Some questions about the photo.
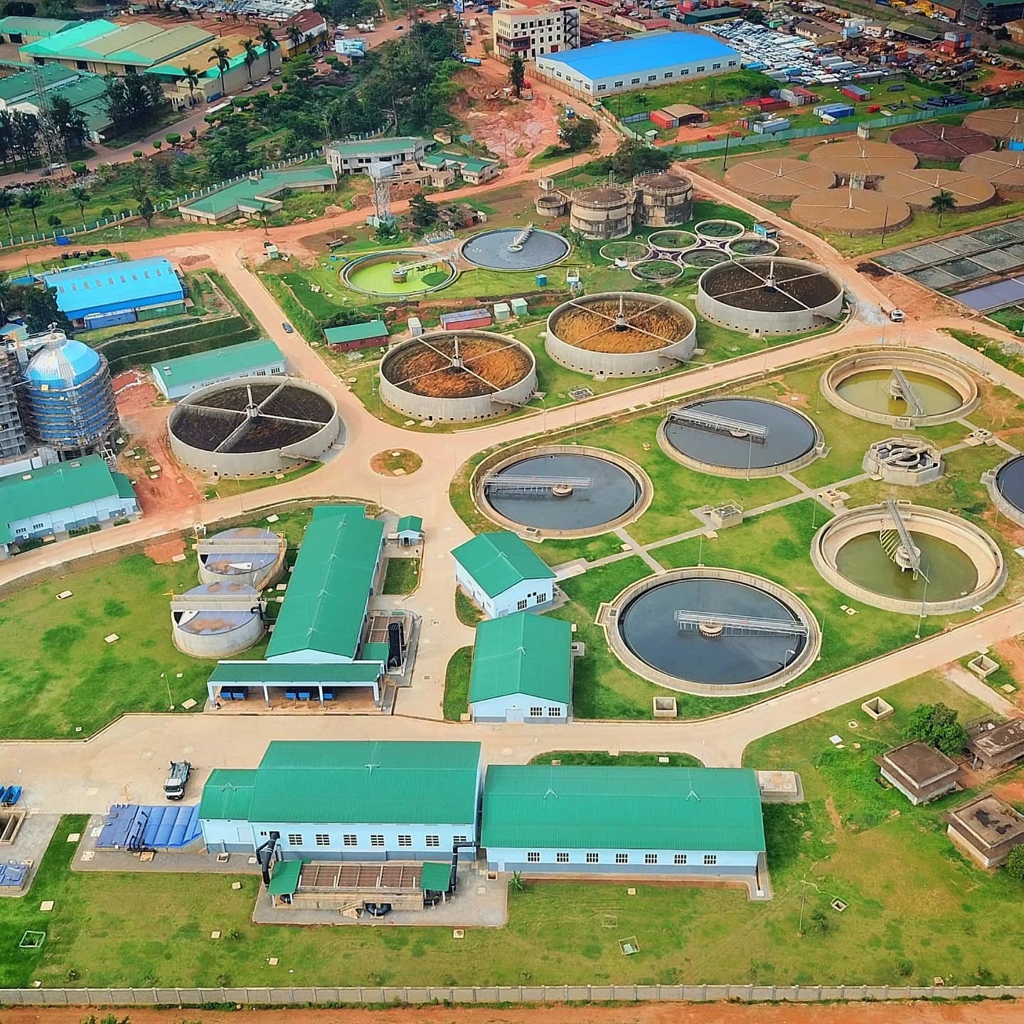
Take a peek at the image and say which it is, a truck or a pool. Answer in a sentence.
The image shows a truck.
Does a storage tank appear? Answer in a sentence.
Yes, I can see a storage tank in this picture.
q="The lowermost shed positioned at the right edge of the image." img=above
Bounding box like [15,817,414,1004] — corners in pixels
[942,791,1024,872]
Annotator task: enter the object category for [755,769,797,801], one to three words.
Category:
storage tank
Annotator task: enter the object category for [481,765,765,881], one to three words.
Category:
building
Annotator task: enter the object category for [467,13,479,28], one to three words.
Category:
vehicle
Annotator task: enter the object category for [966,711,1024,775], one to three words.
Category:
shed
